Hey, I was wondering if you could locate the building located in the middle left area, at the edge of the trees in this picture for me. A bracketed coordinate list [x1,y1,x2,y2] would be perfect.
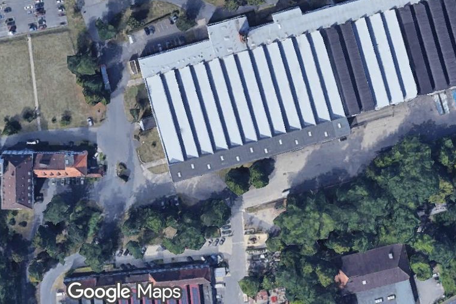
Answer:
[0,150,102,209]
